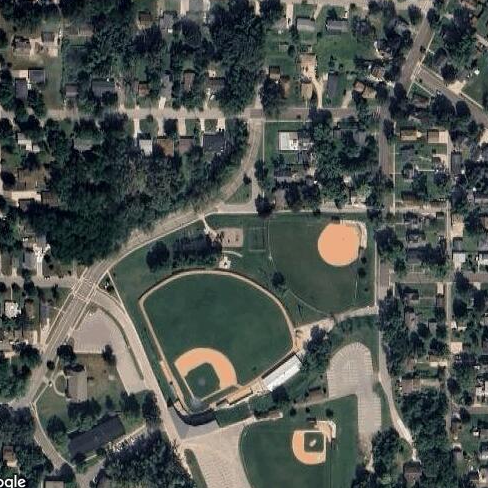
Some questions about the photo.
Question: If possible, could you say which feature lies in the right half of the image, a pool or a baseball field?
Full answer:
You can see a baseball field in the right half of the image.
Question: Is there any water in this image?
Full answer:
No, the picture contains no water.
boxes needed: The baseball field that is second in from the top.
[139,268,295,415]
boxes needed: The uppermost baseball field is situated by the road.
[269,217,369,318]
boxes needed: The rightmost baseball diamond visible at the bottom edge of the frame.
[239,413,333,488]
